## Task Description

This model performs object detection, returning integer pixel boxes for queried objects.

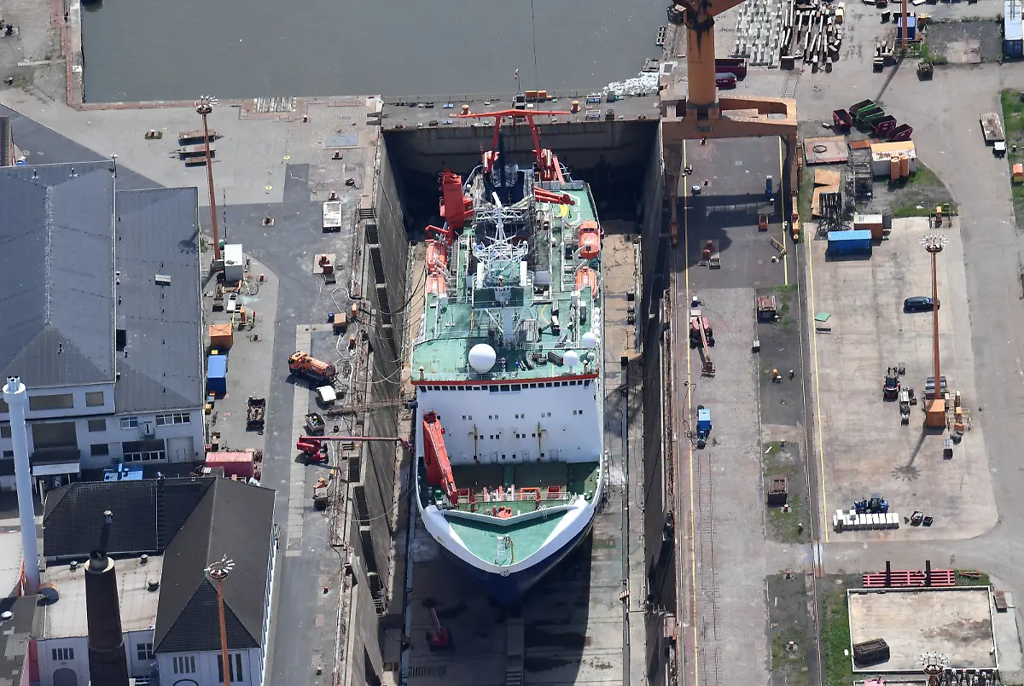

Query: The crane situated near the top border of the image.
[659,0,800,274]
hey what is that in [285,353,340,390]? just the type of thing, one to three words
truck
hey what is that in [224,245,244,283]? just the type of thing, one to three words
building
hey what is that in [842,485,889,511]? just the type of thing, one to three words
work vehicle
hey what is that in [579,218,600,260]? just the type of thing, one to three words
boat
